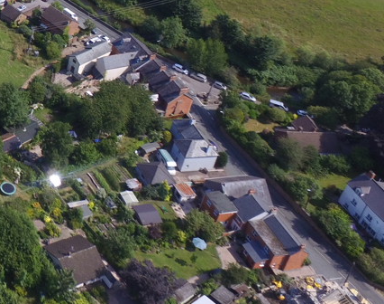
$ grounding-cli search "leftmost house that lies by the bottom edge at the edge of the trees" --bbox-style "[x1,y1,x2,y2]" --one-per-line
[33,224,121,304]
